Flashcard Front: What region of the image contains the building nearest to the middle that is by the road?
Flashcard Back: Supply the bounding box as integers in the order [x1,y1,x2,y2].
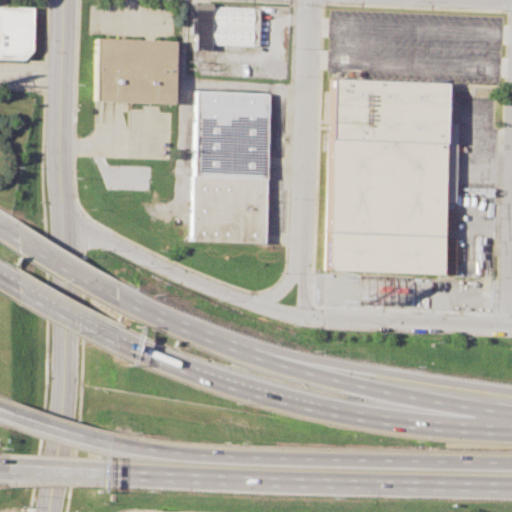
[191,176,268,243]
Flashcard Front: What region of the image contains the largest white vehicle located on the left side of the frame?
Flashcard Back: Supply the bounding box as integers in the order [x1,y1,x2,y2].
[142,346,185,369]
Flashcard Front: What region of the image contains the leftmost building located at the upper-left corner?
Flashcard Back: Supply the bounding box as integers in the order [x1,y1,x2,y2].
[0,6,36,62]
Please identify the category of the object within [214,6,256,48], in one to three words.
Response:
building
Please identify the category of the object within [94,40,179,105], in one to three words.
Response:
building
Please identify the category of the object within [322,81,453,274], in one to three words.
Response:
warehouse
